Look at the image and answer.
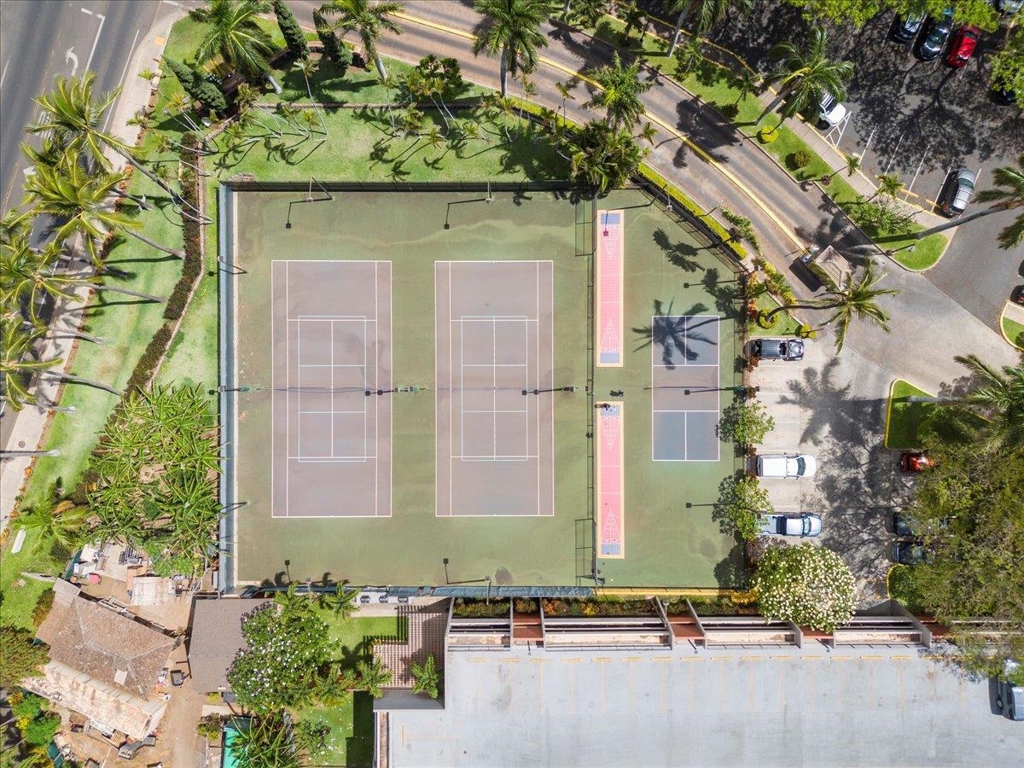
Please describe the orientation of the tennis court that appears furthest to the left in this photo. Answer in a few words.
vertically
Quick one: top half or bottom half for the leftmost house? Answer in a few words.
bottom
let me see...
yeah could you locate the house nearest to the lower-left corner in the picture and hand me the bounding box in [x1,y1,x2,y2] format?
[20,574,176,739]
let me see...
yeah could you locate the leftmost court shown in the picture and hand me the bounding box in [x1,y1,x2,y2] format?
[271,260,392,518]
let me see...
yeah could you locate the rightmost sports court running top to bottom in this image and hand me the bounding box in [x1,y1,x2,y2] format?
[652,316,720,462]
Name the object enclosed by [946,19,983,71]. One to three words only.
car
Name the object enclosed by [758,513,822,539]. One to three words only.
truck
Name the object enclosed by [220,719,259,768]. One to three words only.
swimming pool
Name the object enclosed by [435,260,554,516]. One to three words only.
tennis court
